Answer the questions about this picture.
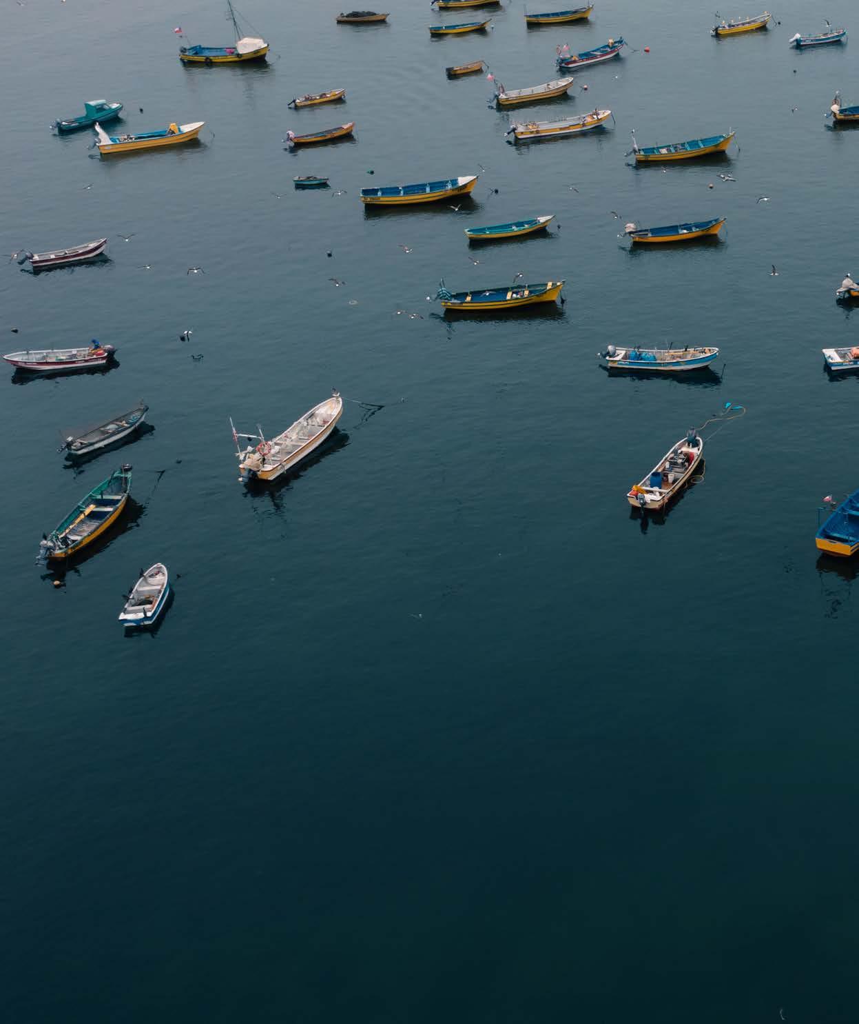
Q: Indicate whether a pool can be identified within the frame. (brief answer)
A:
No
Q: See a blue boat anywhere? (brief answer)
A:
Yes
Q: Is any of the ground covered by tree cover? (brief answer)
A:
No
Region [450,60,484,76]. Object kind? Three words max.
boat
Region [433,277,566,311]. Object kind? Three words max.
boat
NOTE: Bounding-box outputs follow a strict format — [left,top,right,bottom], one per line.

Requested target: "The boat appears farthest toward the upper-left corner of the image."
[52,99,123,132]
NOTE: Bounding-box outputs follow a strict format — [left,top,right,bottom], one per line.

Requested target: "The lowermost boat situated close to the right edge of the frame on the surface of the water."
[815,489,859,558]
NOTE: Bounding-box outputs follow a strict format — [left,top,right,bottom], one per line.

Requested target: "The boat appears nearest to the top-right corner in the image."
[791,28,847,48]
